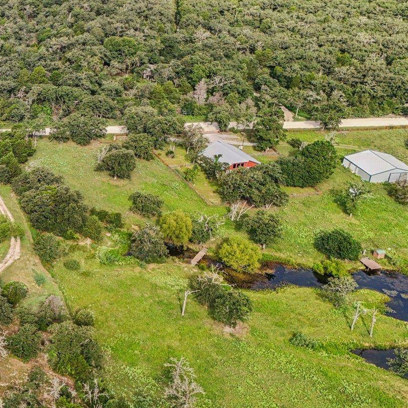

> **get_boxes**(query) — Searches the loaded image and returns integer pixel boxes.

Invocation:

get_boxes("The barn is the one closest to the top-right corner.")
[341,150,408,185]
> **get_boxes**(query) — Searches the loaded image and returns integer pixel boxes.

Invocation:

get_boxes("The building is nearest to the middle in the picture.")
[199,144,258,175]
